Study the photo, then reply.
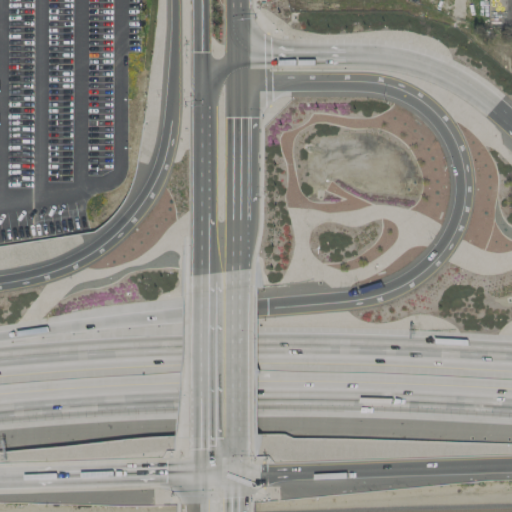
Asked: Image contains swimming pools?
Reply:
No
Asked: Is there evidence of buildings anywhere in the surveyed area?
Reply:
No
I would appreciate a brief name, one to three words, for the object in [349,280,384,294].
vehicle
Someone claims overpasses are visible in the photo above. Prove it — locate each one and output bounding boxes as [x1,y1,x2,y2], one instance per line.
[176,266,258,454]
